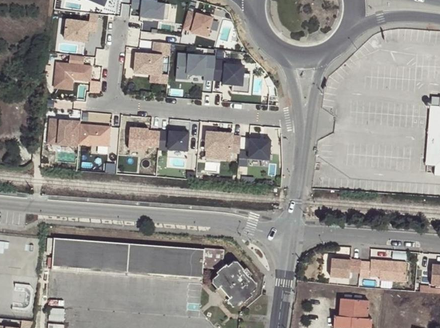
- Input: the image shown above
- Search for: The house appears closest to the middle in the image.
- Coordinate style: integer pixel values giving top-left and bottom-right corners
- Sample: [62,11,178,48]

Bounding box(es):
[204,131,241,163]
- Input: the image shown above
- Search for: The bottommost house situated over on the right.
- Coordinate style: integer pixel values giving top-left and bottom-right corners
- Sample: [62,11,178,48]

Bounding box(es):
[334,300,373,328]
